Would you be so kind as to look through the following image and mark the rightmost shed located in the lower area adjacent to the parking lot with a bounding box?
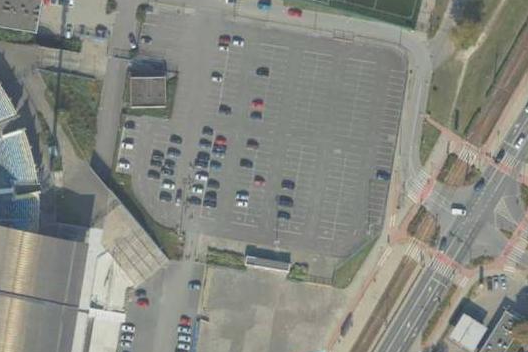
[246,257,289,273]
